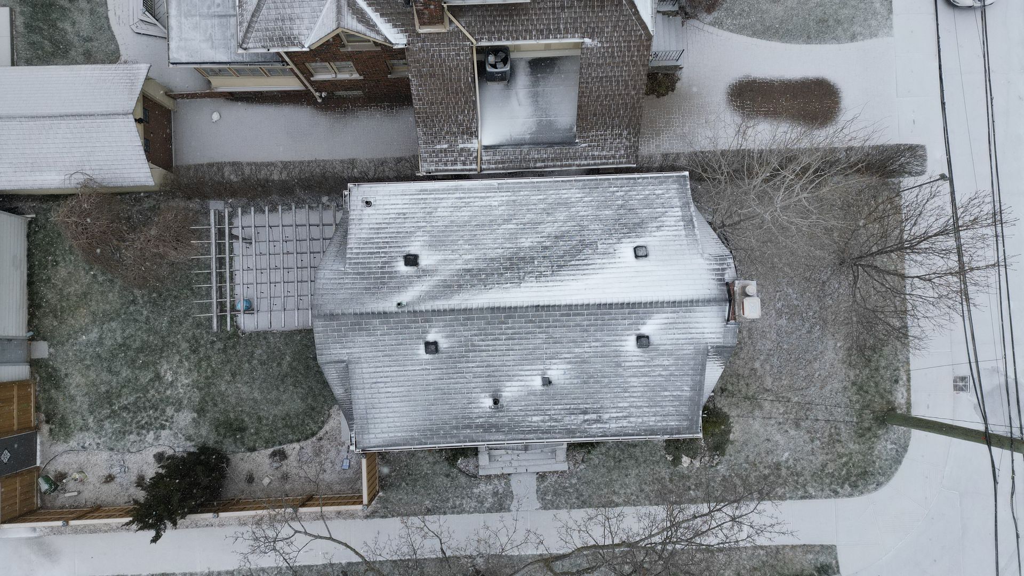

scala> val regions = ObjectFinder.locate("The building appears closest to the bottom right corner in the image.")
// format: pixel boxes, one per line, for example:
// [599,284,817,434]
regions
[312,168,766,456]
